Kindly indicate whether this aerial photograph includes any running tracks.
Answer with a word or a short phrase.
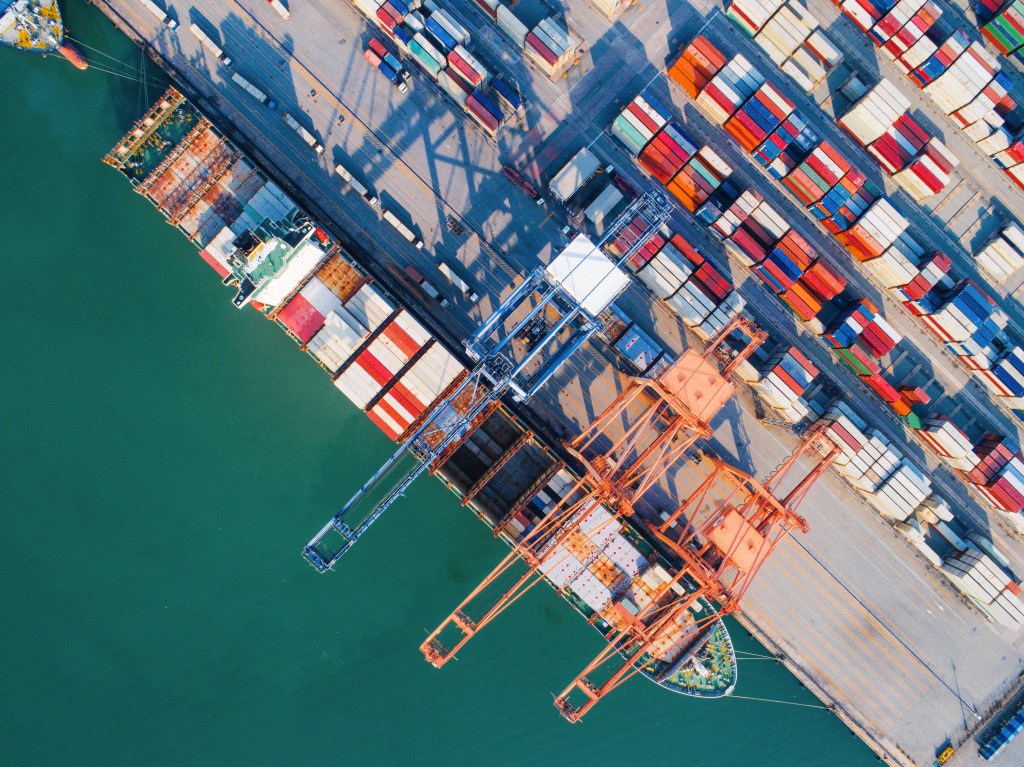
No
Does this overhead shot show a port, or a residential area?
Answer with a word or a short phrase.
port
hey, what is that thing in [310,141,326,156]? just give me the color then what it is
white vehicle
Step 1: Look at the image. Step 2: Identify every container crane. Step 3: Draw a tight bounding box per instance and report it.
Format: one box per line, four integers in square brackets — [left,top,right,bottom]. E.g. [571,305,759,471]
[416,312,765,670]
[301,192,670,573]
[551,425,840,725]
